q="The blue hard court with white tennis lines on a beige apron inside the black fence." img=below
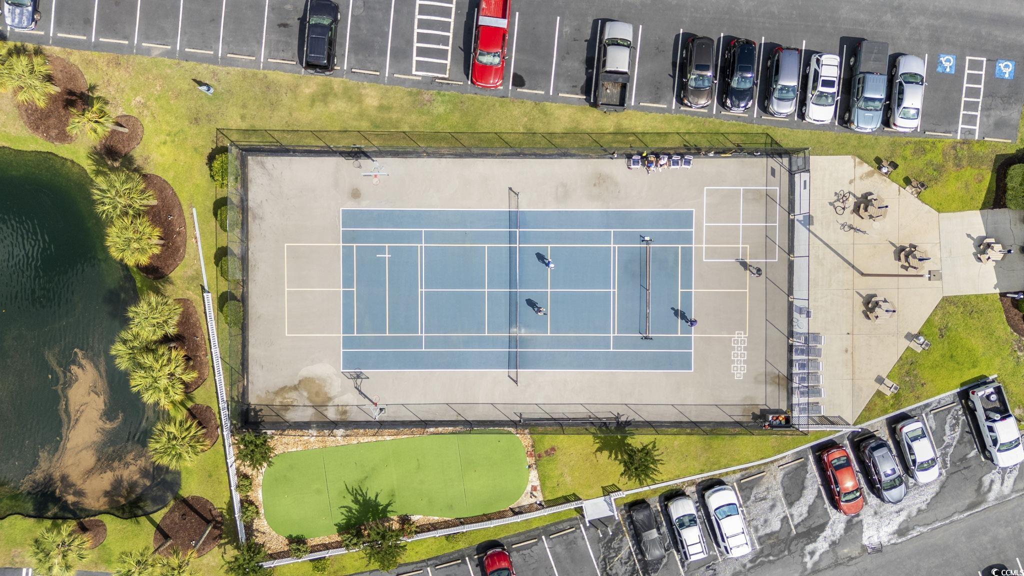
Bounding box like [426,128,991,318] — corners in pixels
[248,156,789,421]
